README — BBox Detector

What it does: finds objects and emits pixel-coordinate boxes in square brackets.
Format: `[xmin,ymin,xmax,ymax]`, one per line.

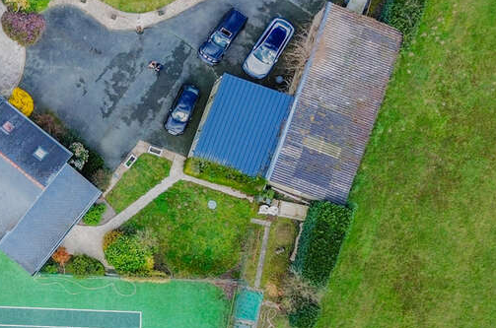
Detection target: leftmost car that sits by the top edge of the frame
[195,6,250,68]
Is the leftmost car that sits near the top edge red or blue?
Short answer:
blue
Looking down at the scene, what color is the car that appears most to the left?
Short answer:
blue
